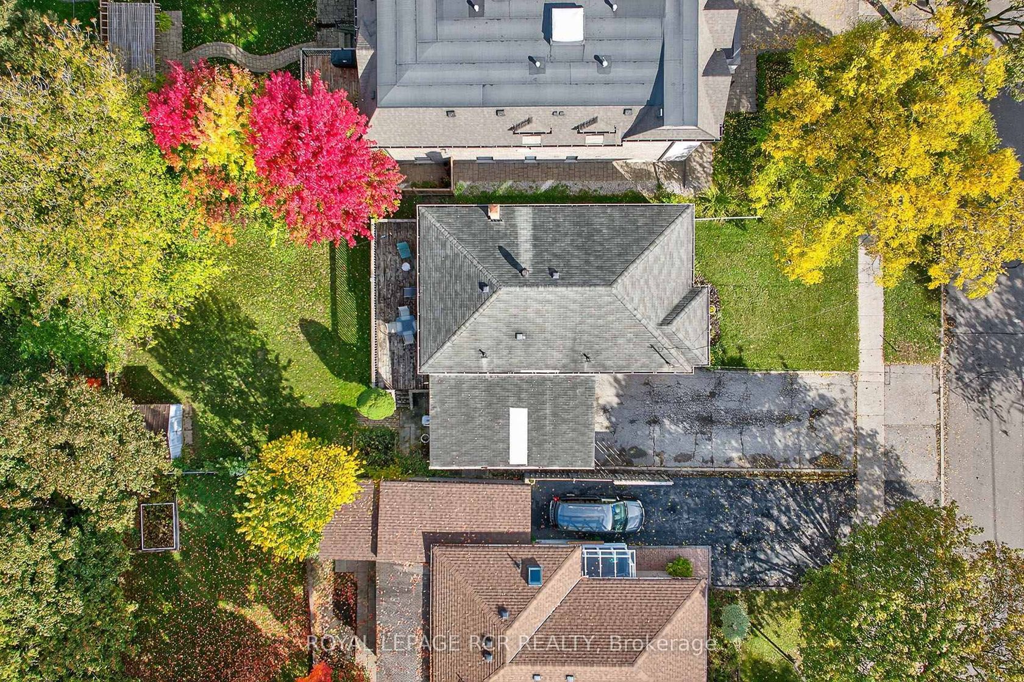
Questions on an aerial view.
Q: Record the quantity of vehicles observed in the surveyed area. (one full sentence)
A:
Just 1 vehicle appears in this view.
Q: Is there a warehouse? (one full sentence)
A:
No, this view has no warehouse in it.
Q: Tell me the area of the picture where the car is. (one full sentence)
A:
The car appears toward the bottom of the photo.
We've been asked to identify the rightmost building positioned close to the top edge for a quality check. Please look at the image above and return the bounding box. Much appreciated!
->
[350,0,746,163]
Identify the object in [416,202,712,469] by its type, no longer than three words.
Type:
house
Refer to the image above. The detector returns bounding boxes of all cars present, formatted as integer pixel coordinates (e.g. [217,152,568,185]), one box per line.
[550,494,642,538]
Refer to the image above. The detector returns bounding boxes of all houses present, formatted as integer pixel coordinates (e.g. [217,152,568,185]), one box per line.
[350,0,746,163]
[318,478,709,682]
[416,202,712,469]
